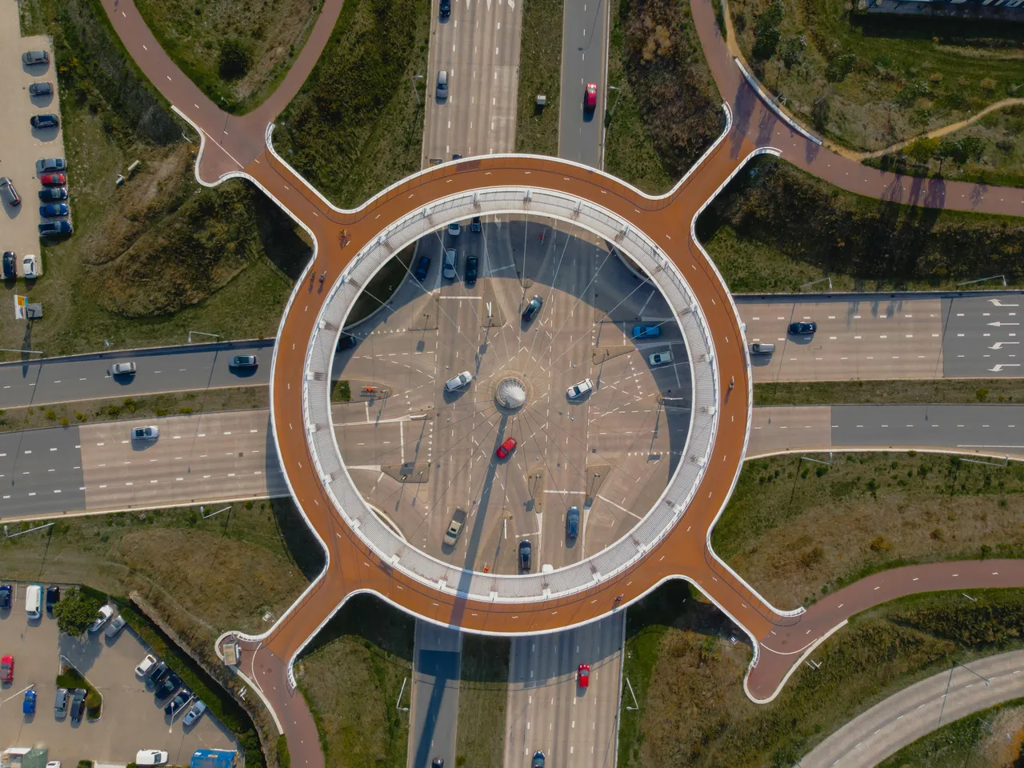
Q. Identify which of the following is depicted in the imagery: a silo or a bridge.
bridge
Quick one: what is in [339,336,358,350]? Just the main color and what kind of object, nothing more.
black car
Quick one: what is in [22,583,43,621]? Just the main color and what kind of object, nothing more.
white vehicle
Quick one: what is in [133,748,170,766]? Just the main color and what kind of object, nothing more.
white vehicle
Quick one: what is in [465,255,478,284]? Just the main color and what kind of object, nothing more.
black vehicle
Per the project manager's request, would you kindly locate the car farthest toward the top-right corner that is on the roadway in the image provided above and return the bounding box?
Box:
[787,321,817,335]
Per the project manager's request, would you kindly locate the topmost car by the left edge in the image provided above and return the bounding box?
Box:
[22,50,52,66]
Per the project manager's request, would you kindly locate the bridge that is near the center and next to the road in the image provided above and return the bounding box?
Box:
[217,100,808,689]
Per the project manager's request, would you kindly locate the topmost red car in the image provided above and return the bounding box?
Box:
[584,84,597,110]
